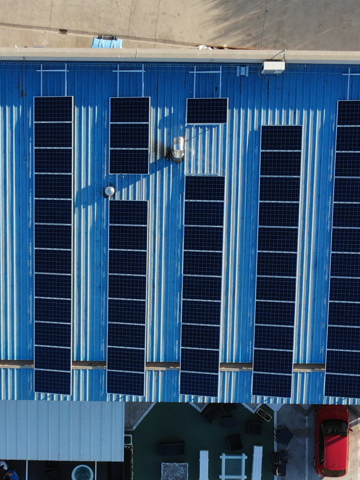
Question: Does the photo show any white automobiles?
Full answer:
No, the picture doesn't show any white automobile.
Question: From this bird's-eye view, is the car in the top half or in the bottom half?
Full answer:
It is in the bottom half that the car appears.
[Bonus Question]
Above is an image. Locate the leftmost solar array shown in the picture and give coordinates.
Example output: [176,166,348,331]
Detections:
[33,62,73,393]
